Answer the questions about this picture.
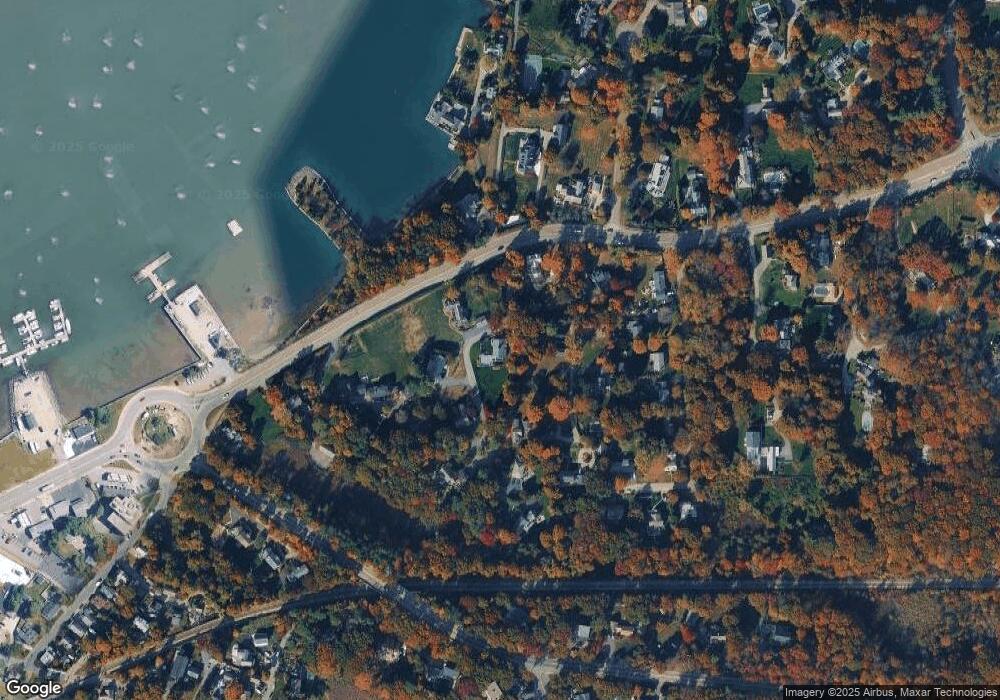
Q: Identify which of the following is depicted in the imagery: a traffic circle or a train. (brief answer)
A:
traffic circle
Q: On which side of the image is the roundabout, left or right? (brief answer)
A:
left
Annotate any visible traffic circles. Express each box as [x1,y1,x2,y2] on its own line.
[120,389,204,472]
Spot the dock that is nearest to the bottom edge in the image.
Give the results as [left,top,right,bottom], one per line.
[0,297,67,376]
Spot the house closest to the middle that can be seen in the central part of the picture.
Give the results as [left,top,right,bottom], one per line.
[479,337,506,369]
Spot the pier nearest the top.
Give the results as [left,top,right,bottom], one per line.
[133,252,176,305]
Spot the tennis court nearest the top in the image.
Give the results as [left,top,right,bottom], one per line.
[524,56,542,92]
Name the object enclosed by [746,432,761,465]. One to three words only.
barn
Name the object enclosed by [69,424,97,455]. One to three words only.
building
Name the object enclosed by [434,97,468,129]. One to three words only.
house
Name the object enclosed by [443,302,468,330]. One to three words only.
house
